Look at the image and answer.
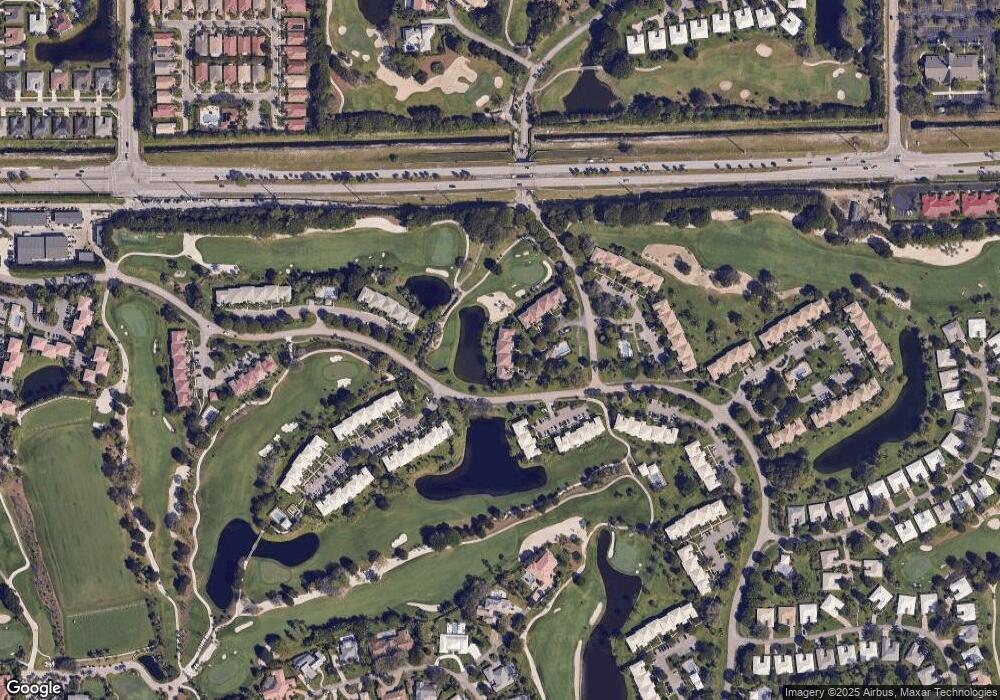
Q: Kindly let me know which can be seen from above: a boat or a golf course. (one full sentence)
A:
Of the two, only a golf course appears.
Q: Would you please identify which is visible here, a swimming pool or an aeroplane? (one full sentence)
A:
The image shows a swimming pool.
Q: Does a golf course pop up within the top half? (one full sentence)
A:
Yes, I can see a golf course within the top half.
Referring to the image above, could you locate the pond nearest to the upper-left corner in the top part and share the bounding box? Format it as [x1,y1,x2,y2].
[36,0,111,62]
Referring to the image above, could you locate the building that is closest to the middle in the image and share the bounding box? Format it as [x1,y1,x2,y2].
[497,328,516,380]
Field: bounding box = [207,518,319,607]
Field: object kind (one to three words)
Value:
pond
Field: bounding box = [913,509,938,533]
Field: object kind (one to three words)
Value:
house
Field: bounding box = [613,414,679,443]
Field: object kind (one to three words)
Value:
building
